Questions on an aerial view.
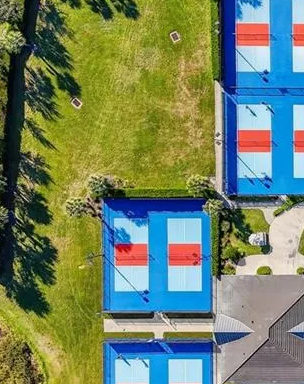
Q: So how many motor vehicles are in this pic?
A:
0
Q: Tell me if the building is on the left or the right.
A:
right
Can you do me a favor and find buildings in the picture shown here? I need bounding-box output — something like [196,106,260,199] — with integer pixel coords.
[211,274,304,384]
